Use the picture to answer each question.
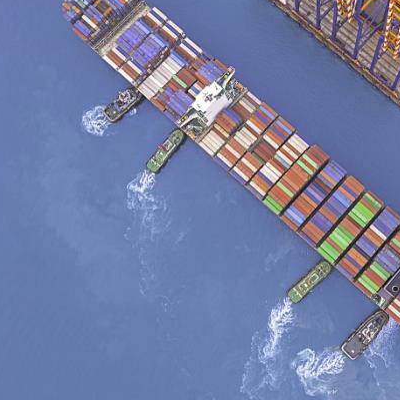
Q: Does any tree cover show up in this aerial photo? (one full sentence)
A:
No, no tree cover is visible.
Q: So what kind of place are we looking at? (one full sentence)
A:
What you see here is a port.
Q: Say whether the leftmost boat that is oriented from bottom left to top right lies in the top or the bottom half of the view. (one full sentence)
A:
You can find the leftmost boat that is oriented from bottom left to top right in the top half.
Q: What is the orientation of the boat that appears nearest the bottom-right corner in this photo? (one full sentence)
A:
In this picture, the boat that appears nearest the bottom-right corner is oriented diagonally.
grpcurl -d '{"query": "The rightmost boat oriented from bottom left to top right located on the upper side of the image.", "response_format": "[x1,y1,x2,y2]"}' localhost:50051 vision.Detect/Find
[148,130,187,173]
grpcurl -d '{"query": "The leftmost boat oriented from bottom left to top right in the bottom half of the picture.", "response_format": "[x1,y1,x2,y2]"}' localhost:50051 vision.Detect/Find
[289,261,332,302]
